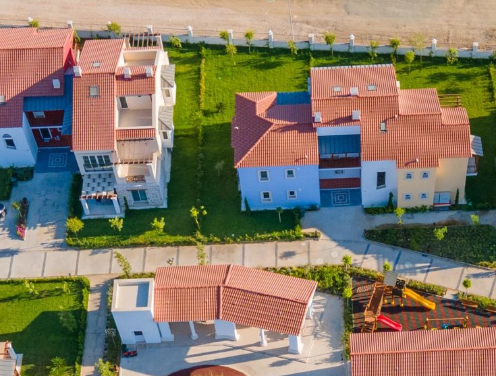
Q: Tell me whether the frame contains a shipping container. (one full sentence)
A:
No, no shipping container is visible in the scene.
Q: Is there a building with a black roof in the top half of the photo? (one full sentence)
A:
No, looking in the top half of the photo, there is no building with a black roof.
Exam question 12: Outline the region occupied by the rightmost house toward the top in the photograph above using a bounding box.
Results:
[233,65,489,210]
